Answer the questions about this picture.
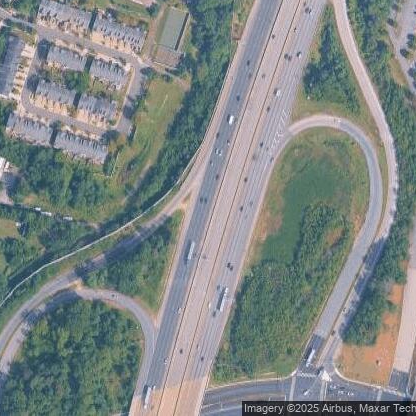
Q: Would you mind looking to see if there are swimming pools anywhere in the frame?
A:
No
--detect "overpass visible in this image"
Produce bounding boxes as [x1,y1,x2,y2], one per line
[128,377,208,416]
